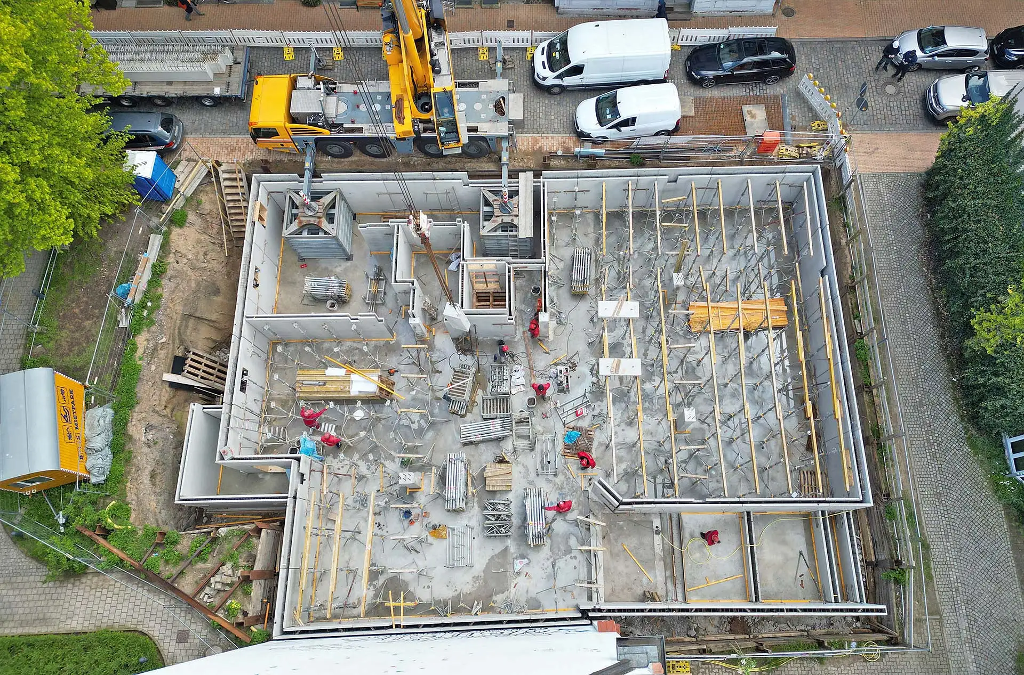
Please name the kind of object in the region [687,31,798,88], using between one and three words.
car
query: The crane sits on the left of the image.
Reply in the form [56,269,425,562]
[245,0,523,217]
